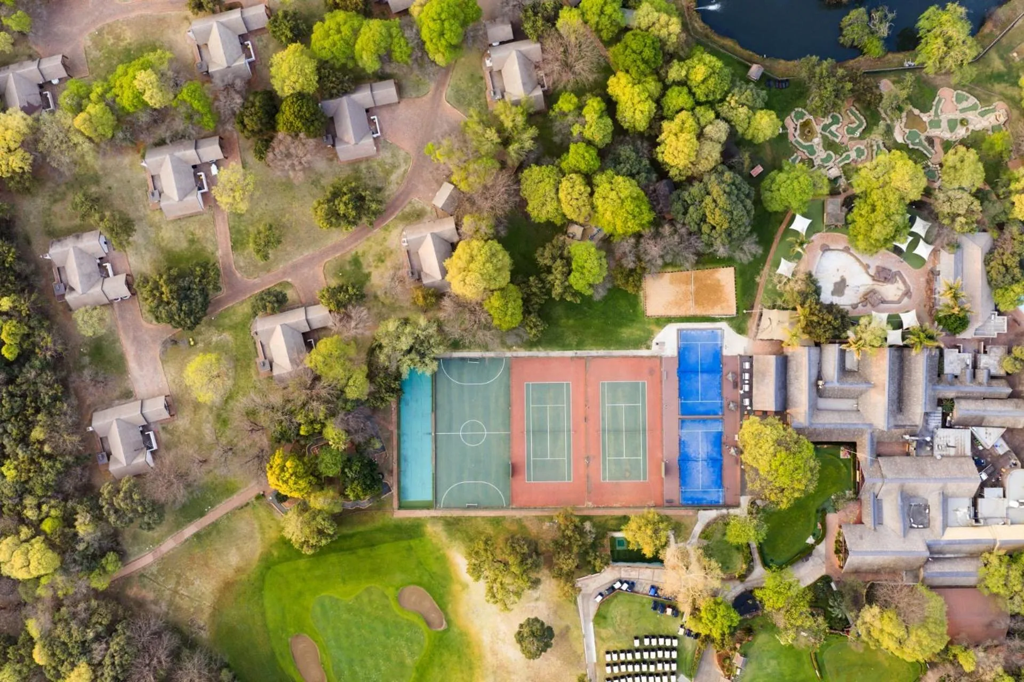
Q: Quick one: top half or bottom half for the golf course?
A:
bottom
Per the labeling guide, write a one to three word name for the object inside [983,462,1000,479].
vehicle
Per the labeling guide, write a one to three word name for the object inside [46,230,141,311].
house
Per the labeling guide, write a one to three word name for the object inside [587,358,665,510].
tennis court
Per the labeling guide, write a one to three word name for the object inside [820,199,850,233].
shed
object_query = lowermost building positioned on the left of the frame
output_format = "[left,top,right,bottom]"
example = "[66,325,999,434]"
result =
[87,394,180,483]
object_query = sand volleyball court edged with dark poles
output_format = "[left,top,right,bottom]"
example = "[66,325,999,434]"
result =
[644,266,738,318]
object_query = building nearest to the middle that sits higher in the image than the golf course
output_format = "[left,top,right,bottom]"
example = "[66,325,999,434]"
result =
[402,217,464,299]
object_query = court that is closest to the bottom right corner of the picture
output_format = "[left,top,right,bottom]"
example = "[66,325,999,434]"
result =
[680,419,729,509]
